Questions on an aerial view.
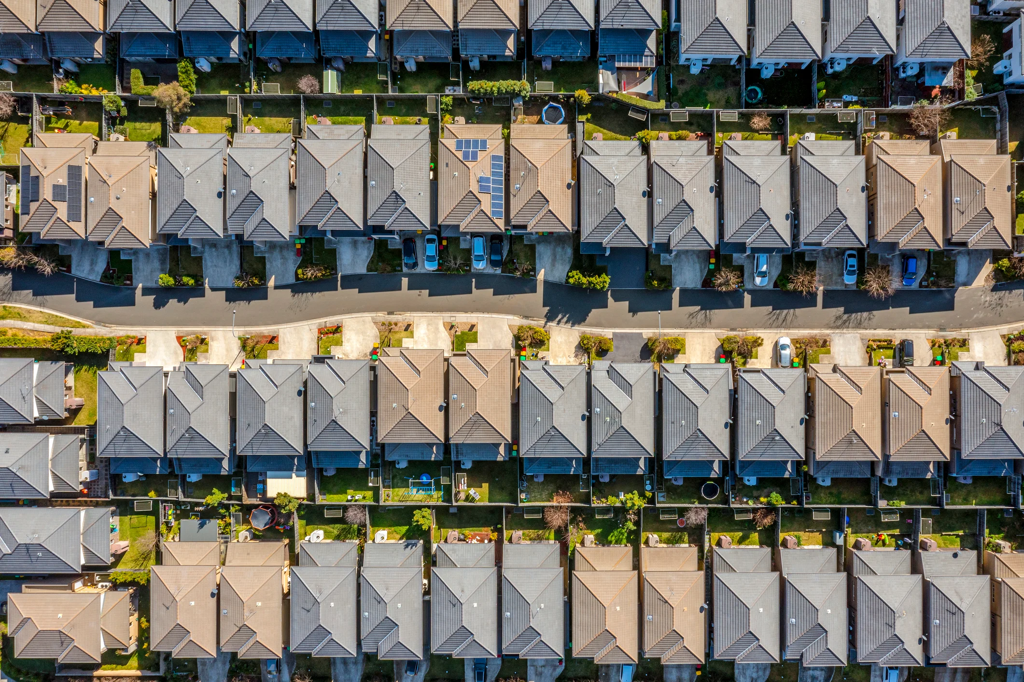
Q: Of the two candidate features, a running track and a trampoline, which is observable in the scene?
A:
trampoline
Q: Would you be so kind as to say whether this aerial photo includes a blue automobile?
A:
Yes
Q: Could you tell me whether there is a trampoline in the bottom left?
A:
Yes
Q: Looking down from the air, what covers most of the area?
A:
buildings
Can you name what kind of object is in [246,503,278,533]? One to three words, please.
trampoline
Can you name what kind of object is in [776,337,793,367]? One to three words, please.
car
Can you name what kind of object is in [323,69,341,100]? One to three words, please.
shed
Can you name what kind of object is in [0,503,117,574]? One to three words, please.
house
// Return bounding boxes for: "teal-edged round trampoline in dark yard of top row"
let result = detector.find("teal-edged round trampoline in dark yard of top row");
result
[744,83,766,103]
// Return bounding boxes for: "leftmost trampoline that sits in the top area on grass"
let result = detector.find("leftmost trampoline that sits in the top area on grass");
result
[542,100,565,124]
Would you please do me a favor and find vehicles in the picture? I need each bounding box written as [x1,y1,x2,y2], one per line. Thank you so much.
[424,235,438,269]
[776,337,793,367]
[842,250,858,284]
[489,234,504,269]
[265,659,281,682]
[900,255,918,286]
[753,252,769,286]
[473,658,489,682]
[619,664,635,682]
[882,667,900,682]
[898,336,916,369]
[406,660,419,680]
[403,239,418,270]
[0,601,7,615]
[471,234,487,269]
